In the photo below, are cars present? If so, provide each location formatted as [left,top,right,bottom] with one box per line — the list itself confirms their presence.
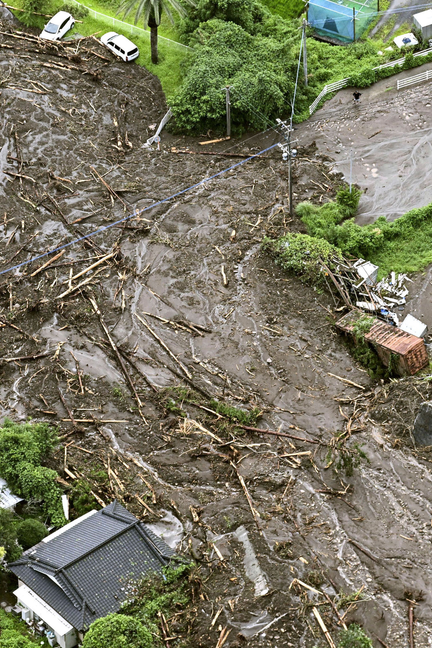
[40,9,75,42]
[100,32,141,64]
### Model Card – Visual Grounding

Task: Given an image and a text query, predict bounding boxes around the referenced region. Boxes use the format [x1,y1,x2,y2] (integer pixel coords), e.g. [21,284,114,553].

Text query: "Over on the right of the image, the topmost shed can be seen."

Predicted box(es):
[411,9,432,40]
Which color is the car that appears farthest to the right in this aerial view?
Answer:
white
